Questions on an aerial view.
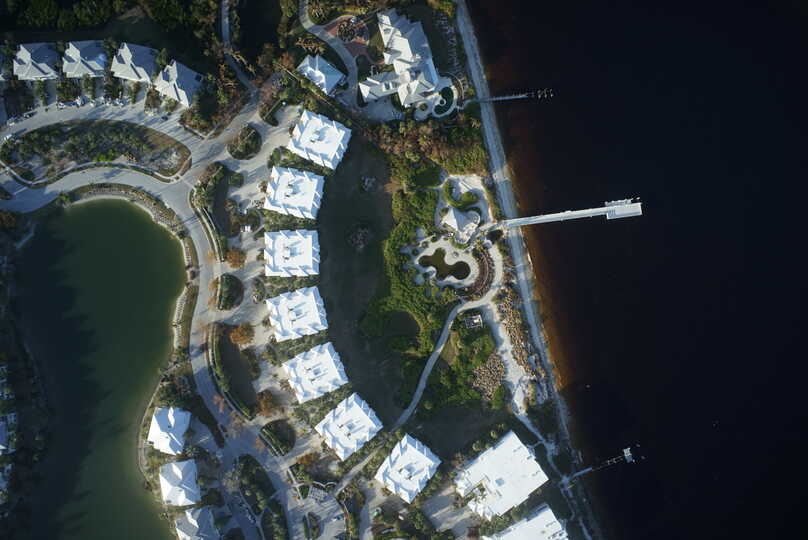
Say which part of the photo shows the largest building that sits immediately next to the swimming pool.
top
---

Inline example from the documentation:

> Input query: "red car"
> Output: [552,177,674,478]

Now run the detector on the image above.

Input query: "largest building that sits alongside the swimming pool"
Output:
[356,9,447,110]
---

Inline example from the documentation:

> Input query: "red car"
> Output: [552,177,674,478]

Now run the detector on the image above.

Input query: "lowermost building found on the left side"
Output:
[174,504,221,540]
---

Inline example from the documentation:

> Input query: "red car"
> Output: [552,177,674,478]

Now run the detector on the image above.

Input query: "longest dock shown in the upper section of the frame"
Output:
[499,198,643,230]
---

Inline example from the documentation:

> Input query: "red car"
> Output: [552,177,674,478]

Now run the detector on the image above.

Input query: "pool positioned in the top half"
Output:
[435,87,454,114]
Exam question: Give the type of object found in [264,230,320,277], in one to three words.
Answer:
building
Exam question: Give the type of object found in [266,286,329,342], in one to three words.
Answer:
building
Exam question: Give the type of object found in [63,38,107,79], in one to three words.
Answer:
house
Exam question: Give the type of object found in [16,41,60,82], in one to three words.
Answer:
house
